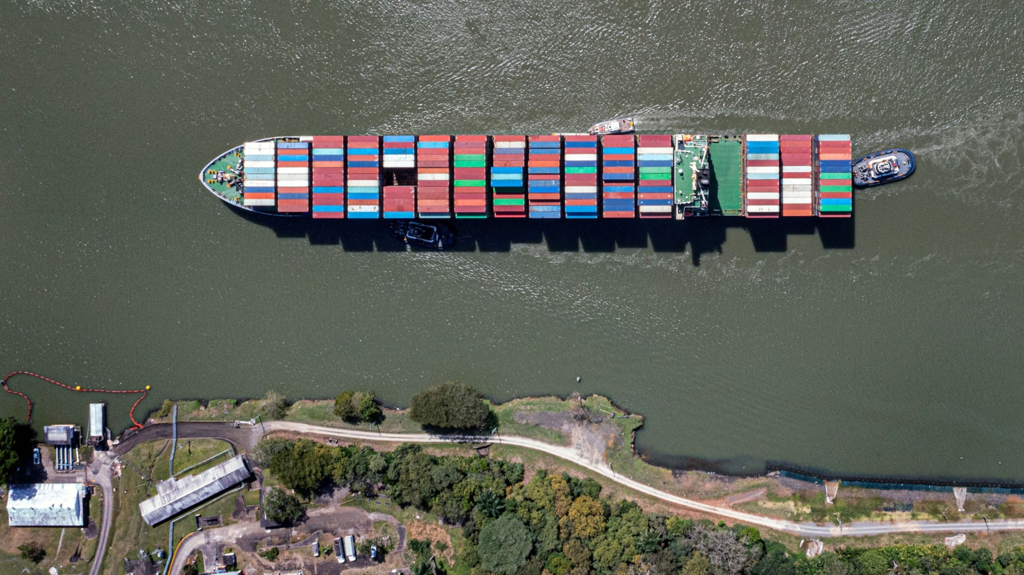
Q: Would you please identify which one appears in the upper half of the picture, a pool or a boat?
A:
boat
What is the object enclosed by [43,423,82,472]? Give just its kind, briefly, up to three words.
building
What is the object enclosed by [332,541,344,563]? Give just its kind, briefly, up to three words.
vehicle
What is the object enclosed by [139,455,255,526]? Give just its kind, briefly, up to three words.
shed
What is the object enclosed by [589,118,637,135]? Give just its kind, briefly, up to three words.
boat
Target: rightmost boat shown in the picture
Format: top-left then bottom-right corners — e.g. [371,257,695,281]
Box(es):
[847,150,915,187]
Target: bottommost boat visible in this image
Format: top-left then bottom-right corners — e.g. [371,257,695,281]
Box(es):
[387,217,458,249]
